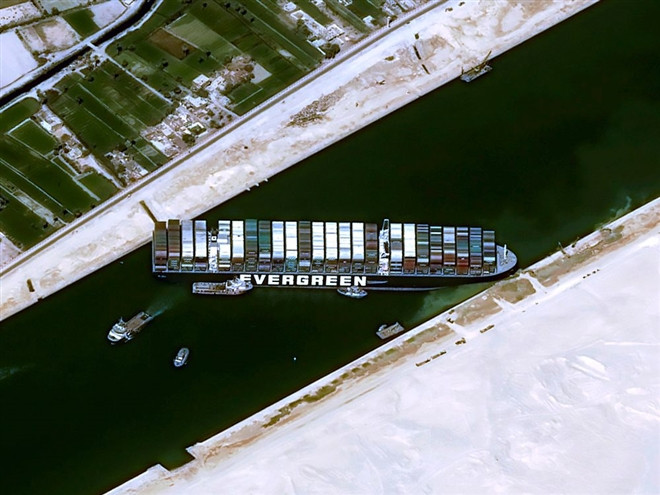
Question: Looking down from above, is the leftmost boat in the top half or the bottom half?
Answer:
bottom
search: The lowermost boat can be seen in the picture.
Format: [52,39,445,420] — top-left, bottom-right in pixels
[173,346,191,366]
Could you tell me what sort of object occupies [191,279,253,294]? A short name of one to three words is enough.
boat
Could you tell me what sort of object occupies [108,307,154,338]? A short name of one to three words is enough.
boat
